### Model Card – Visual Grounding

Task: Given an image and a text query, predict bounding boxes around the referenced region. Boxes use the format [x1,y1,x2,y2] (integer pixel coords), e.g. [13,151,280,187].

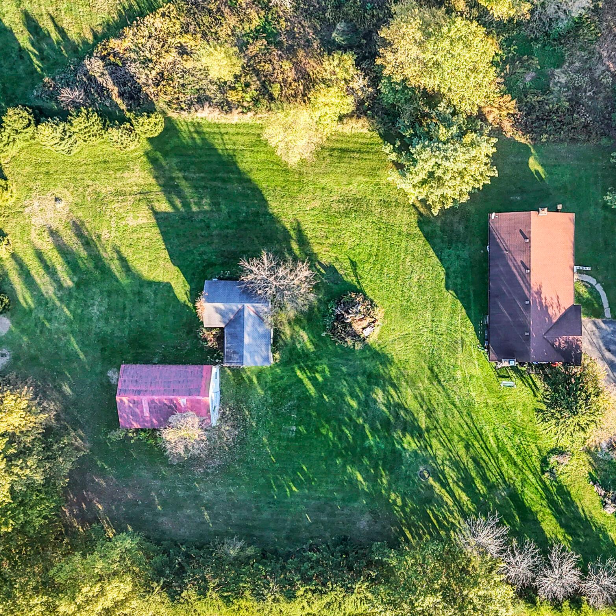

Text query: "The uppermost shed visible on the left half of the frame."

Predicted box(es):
[200,280,278,367]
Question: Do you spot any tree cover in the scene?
Yes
